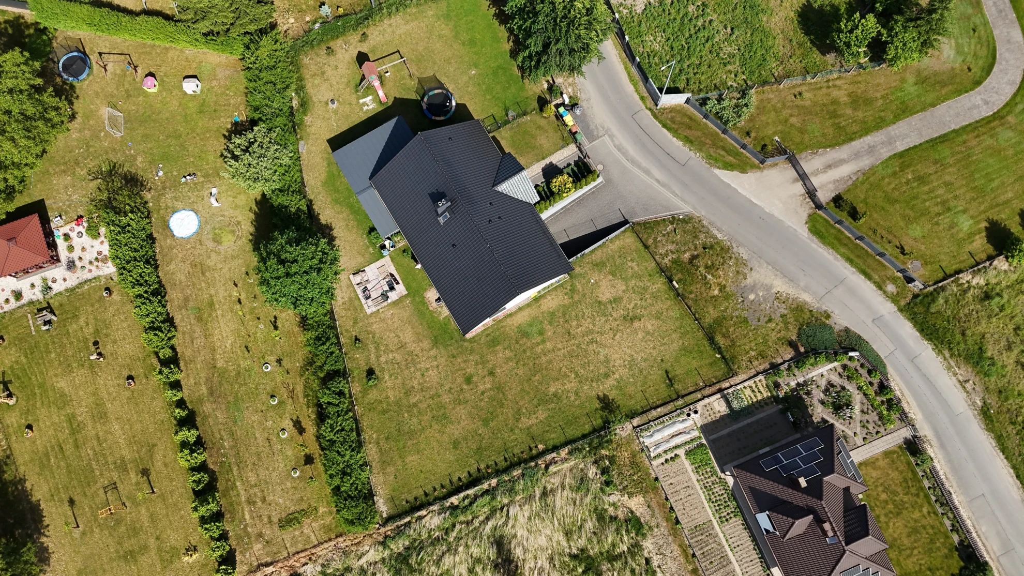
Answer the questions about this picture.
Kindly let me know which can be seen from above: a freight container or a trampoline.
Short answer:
trampoline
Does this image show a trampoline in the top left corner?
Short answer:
Yes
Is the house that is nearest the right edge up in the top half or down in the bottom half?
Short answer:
bottom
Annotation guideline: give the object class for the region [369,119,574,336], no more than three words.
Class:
house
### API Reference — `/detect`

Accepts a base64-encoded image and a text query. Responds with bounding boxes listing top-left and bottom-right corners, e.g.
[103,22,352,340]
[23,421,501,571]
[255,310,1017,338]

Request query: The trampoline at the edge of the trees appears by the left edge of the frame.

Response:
[48,41,96,86]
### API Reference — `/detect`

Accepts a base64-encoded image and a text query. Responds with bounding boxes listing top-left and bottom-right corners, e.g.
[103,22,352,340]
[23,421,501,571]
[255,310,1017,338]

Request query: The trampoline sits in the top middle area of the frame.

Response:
[417,79,458,120]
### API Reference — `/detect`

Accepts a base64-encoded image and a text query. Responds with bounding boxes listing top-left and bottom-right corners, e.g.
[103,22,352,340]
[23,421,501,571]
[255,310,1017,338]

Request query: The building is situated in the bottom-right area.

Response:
[731,423,899,576]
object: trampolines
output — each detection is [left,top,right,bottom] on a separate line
[417,79,458,120]
[48,41,96,86]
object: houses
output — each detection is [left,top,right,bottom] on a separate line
[0,214,69,288]
[369,119,574,336]
[731,423,899,576]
